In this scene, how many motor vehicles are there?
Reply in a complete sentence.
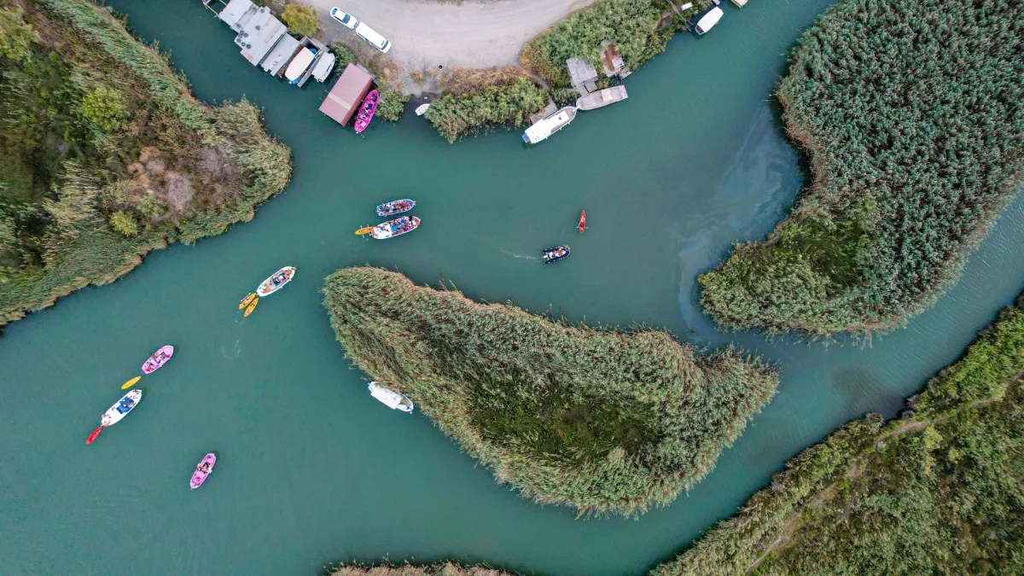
There are 2 motor vehicles in the image.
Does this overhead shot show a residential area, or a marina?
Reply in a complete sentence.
What you see here is a marina.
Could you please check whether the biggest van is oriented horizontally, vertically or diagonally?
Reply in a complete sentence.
The biggest van runs diagonally in the image.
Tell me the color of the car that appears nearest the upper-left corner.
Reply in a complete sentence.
In this view, the car that appears nearest the upper-left corner is white.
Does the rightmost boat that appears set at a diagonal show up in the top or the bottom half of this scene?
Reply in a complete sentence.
The rightmost boat that appears set at a diagonal sits in the top half of the picture.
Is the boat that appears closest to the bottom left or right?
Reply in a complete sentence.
It is on the left.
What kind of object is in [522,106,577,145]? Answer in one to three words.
boat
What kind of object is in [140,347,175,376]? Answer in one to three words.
boat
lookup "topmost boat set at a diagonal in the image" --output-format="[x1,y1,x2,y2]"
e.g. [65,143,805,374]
[693,7,725,37]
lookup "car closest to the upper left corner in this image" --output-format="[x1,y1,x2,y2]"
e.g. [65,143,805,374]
[329,7,359,31]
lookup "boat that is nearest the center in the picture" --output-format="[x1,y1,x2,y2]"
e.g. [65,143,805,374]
[543,247,571,262]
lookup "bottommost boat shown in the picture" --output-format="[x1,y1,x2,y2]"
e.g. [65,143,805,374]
[188,454,216,490]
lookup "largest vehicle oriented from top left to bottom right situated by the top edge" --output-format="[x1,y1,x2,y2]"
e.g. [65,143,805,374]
[355,21,393,55]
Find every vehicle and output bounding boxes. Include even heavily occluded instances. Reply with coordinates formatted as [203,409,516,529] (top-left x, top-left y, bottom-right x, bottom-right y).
[329,7,359,31]
[355,21,393,55]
